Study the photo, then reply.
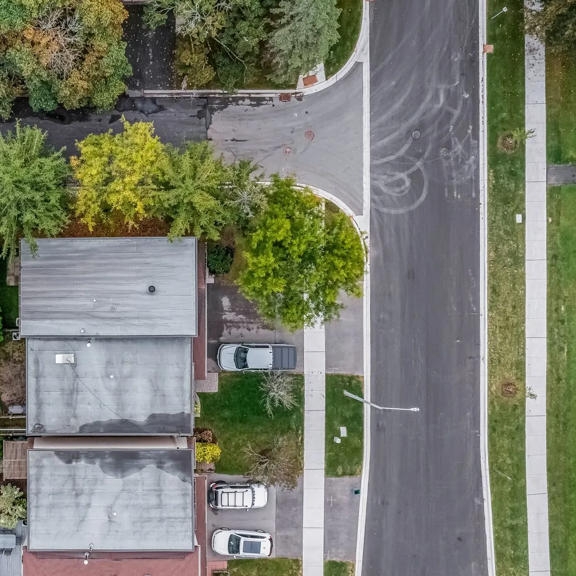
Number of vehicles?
three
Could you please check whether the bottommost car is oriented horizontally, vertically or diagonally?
horizontally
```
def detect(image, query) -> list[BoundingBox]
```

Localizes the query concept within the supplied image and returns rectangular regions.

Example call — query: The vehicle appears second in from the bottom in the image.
[207,481,267,514]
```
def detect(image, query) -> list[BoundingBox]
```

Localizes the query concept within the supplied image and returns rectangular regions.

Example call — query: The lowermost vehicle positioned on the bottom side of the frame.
[208,528,272,562]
